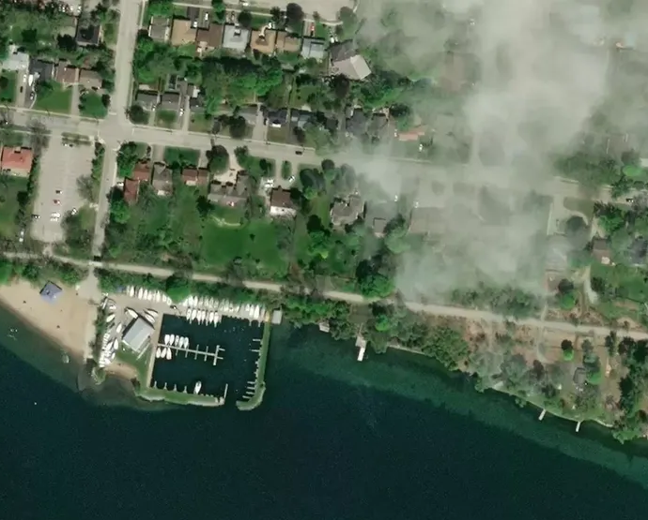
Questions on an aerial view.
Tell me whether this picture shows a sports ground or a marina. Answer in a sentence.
This looks like a marina.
